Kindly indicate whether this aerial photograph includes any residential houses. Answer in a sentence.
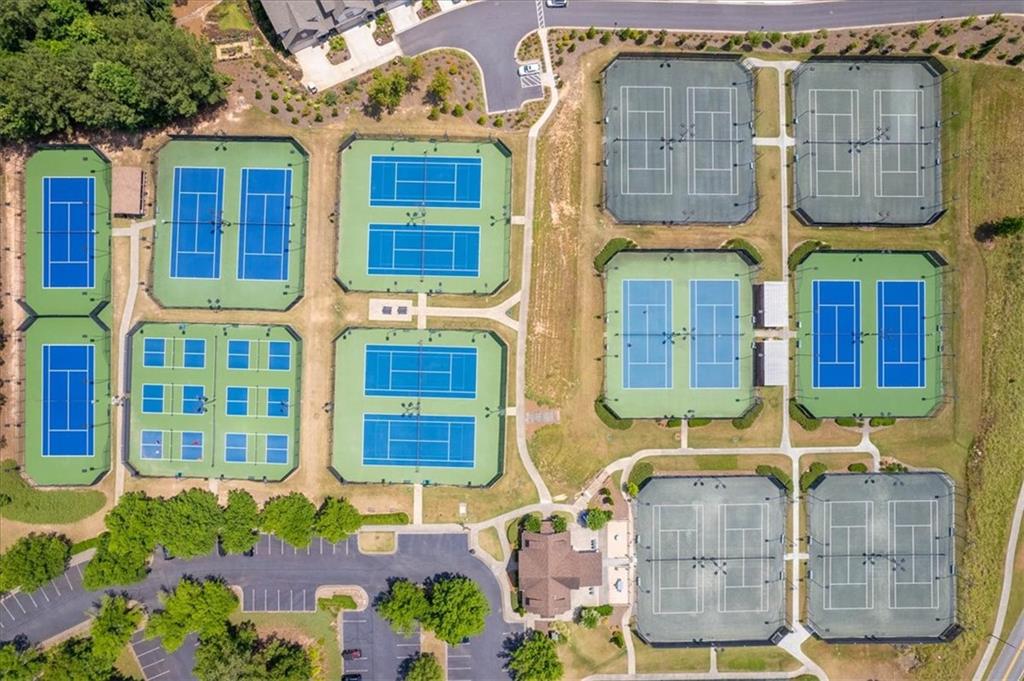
Yes, there's a residential house here.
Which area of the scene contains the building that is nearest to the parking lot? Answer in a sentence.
The building that is nearest to the parking lot sits in the bottom section of the image.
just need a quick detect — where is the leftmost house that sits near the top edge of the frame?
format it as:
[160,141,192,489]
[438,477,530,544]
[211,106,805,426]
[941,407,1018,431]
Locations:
[262,0,339,51]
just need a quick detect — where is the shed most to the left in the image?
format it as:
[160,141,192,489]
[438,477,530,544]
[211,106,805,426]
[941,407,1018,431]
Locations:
[111,166,147,215]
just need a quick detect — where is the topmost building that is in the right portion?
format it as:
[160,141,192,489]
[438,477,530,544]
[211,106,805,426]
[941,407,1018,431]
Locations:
[753,281,789,327]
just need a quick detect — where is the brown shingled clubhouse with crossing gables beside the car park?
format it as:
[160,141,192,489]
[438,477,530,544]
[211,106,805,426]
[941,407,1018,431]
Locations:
[518,525,604,625]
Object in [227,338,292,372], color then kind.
blue sports court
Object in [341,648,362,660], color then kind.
black vehicle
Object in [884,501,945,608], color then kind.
gray tennis court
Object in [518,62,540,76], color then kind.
white car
